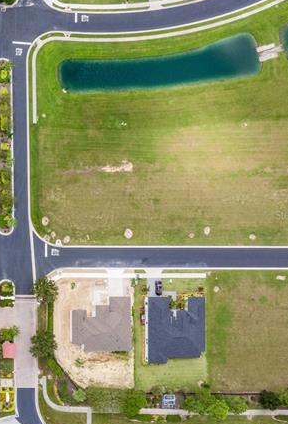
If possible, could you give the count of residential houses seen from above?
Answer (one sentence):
There are 2 residential houses in the image.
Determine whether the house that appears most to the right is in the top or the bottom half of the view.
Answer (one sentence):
The house that appears most to the right sits in the bottom half of the picture.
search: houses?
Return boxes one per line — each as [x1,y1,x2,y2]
[144,296,206,363]
[70,296,131,352]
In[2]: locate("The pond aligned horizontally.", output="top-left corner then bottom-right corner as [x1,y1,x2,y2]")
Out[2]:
[58,33,261,92]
